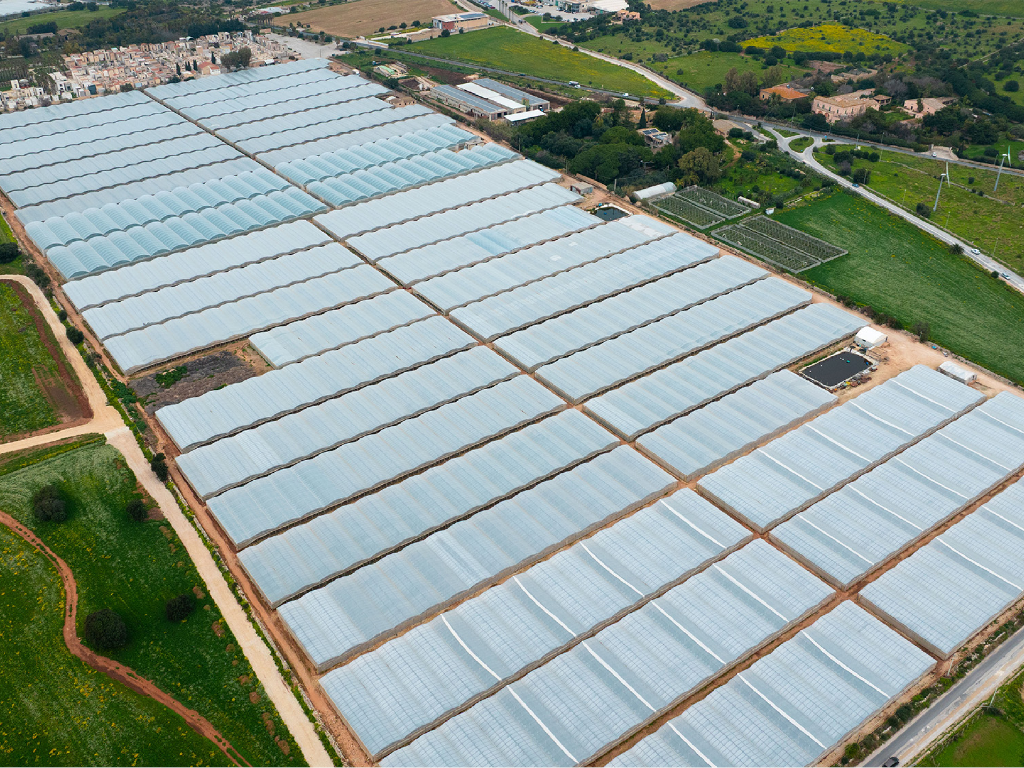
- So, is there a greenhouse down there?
Yes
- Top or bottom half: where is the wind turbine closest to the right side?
top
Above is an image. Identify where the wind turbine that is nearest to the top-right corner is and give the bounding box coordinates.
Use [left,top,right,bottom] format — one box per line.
[992,141,1013,191]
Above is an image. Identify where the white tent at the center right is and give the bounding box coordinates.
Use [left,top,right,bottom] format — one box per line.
[854,327,885,348]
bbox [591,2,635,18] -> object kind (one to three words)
building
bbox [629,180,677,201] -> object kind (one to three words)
greenhouse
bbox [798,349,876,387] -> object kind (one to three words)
pond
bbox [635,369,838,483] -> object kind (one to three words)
greenhouse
